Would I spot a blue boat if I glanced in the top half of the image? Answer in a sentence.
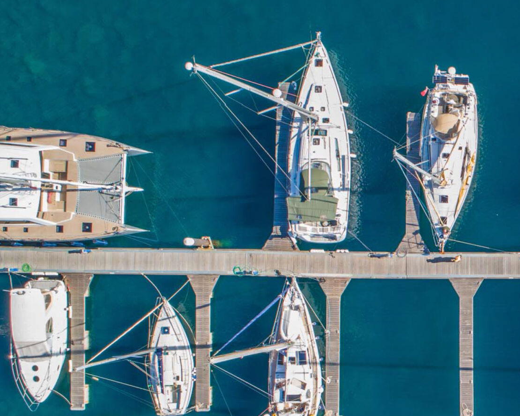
No, there is no blue boat in the top half of the image.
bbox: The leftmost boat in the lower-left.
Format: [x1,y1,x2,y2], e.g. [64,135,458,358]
[2,277,72,407]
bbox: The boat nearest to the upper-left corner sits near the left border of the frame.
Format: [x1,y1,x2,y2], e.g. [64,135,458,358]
[0,126,152,243]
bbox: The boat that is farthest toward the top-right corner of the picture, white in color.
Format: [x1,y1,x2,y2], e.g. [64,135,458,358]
[389,65,479,253]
